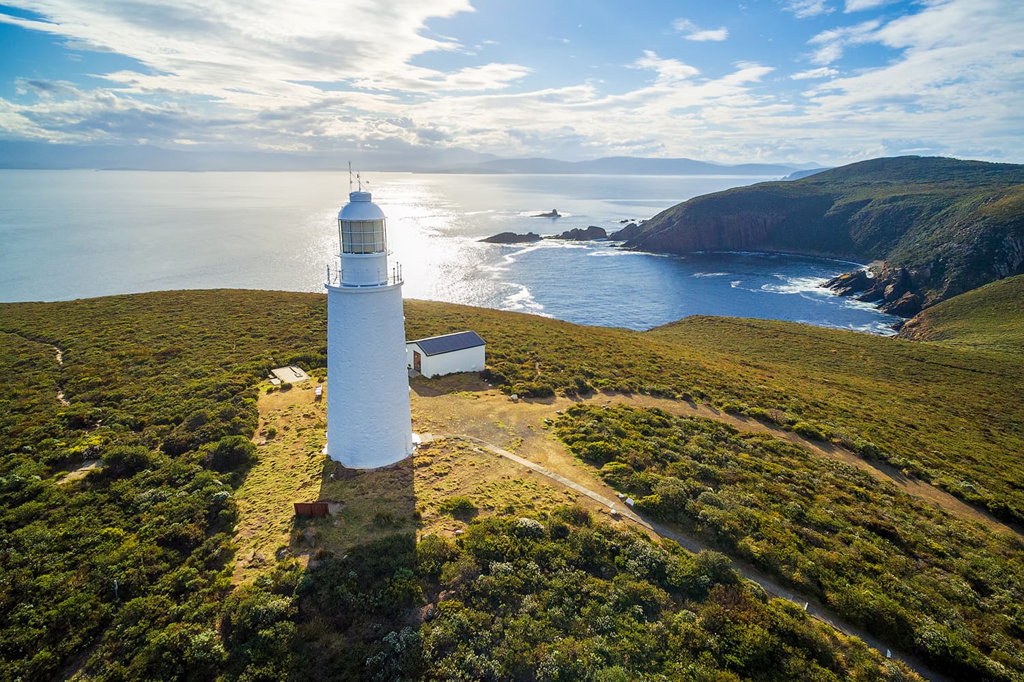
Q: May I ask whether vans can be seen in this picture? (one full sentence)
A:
No, the frame has no van in it.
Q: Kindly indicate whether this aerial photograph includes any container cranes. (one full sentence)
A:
No, there isn't any container crane down there.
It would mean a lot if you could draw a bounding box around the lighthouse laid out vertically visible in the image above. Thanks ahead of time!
[320,162,422,471]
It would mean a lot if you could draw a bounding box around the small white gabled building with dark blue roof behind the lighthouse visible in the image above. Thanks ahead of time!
[408,335,489,378]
